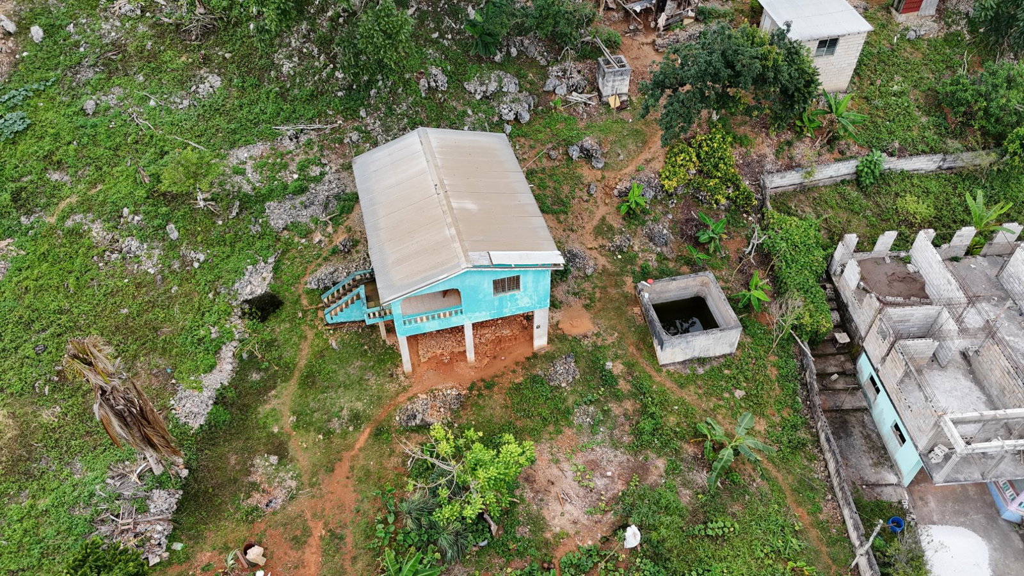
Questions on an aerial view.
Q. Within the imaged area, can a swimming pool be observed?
No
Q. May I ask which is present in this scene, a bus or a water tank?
water tank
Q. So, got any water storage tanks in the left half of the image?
No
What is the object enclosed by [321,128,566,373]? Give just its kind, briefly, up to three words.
house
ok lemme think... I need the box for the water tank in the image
[635,272,741,369]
